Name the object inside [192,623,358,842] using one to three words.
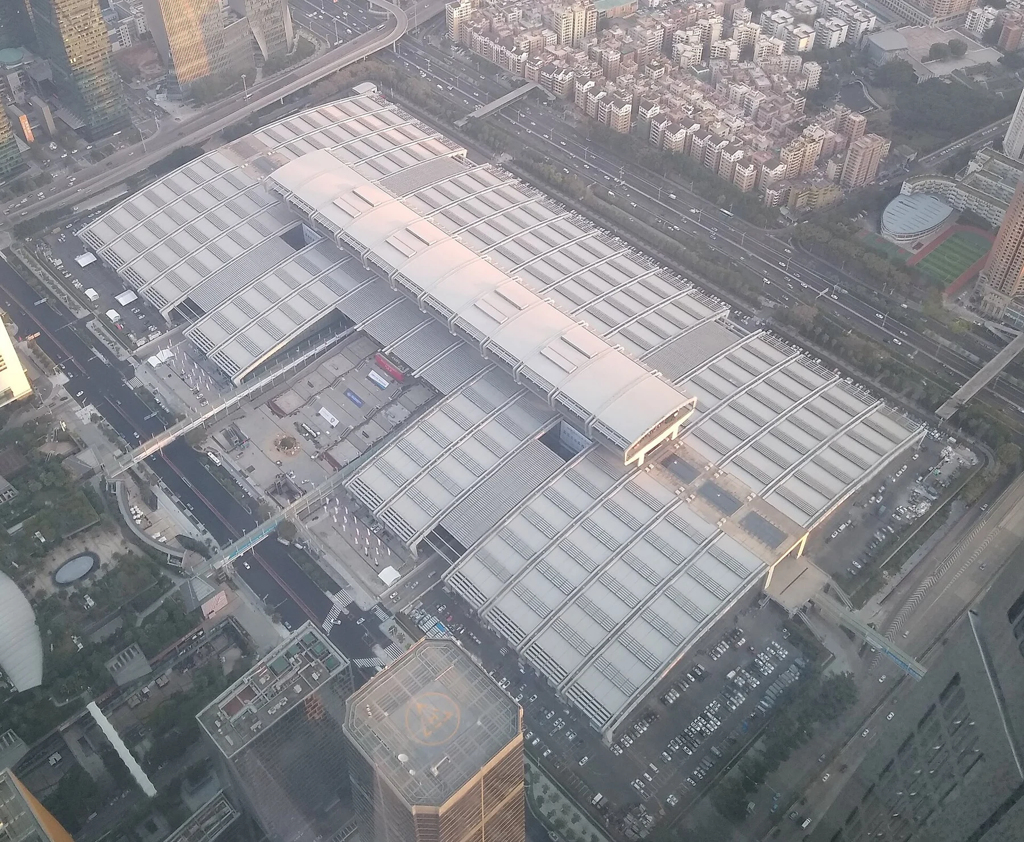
building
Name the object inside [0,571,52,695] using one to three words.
building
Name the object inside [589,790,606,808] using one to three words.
vehicle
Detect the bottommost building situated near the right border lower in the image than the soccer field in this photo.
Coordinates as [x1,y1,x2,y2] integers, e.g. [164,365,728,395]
[829,570,1024,842]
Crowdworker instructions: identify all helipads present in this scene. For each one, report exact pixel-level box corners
[390,680,471,759]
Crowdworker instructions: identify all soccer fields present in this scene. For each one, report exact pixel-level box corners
[915,228,999,285]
